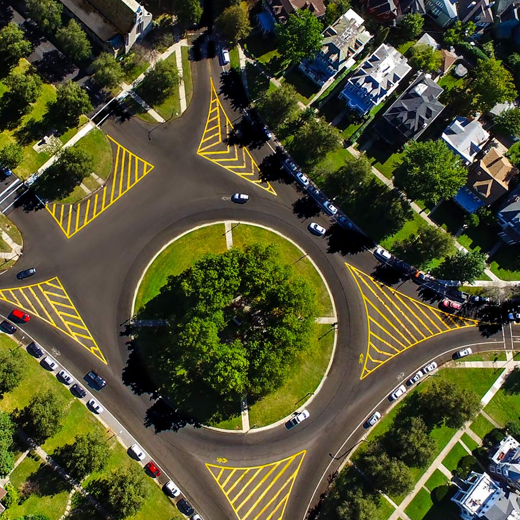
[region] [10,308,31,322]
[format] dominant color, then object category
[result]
red vehicle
